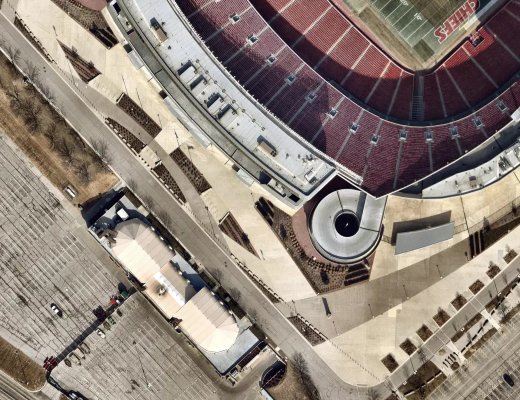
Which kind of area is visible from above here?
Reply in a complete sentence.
This looks like a sports ground.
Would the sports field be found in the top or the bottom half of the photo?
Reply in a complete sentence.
The sports field is in the top half of the image.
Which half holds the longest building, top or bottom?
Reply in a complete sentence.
You can find the longest building in the bottom half.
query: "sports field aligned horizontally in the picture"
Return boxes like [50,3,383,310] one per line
[274,0,512,113]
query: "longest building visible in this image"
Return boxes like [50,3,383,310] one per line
[88,196,265,377]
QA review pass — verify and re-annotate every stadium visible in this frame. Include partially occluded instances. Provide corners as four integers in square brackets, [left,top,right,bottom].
[98,0,520,207]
